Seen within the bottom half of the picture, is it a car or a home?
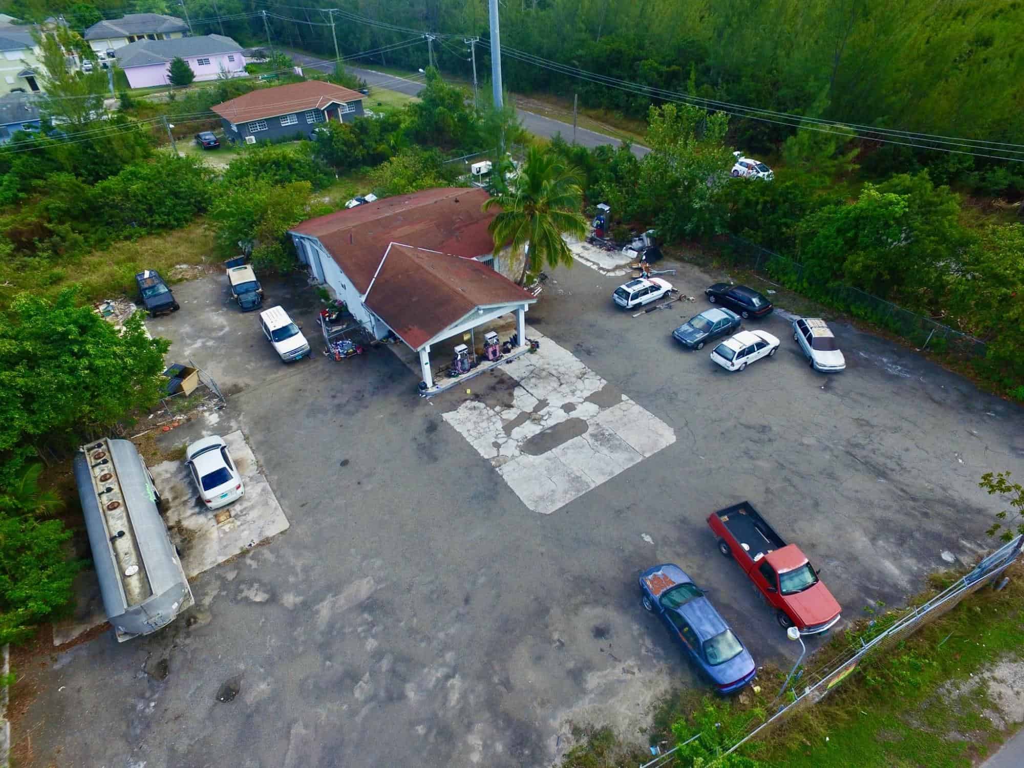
car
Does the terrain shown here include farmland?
No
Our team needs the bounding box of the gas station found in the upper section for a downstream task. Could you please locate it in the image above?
[287,187,538,398]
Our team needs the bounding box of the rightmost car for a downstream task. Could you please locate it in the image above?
[792,314,848,374]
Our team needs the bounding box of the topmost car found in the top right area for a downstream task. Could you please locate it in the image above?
[726,151,769,180]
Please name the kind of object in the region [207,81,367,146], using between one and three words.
house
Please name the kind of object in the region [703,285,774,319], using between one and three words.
car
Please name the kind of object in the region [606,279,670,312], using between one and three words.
car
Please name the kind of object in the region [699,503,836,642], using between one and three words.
truck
